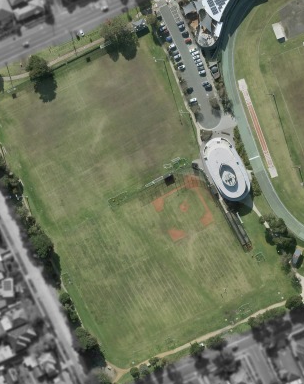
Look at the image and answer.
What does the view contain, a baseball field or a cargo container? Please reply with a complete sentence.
I can see a baseball field in this picture.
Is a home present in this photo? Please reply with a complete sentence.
Yes, this view includes a home.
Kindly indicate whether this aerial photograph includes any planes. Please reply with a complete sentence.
No, the photo shows no plane.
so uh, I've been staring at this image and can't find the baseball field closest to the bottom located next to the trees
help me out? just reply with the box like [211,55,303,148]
[34,162,294,366]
